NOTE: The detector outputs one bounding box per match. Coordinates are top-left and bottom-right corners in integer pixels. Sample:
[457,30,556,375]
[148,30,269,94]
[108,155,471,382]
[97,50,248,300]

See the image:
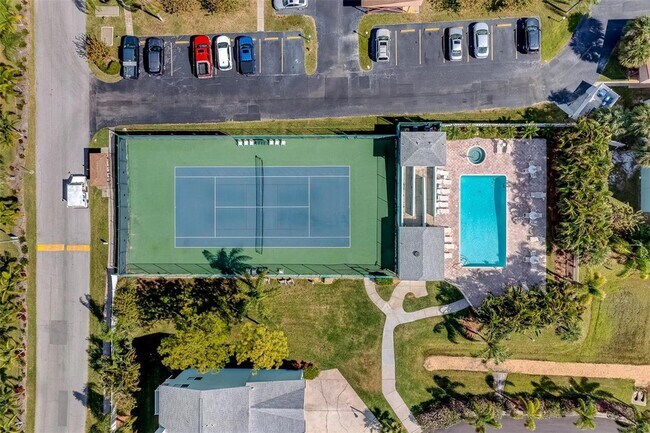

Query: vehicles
[121,37,141,79]
[273,0,310,11]
[215,36,232,72]
[145,38,164,76]
[472,23,490,60]
[375,30,391,63]
[520,19,540,55]
[447,28,464,62]
[64,175,88,209]
[194,36,213,80]
[236,36,255,76]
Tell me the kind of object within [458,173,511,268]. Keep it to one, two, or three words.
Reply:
swimming pool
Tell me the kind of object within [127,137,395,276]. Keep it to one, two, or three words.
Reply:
tennis court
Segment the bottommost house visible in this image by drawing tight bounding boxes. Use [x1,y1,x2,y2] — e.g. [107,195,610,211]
[154,370,305,433]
